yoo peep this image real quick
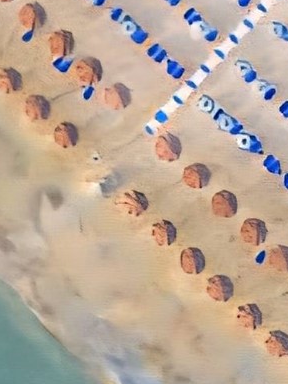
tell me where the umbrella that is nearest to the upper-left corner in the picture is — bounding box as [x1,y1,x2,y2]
[20,5,42,27]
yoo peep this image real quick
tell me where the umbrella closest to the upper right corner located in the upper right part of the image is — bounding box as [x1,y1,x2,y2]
[268,20,286,38]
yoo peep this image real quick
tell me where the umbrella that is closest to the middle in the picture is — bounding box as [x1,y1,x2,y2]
[117,191,142,216]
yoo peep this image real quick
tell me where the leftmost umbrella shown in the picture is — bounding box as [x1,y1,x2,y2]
[0,68,18,92]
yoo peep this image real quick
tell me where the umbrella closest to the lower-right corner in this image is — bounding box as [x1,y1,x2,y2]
[265,332,288,355]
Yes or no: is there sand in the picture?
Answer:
Yes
